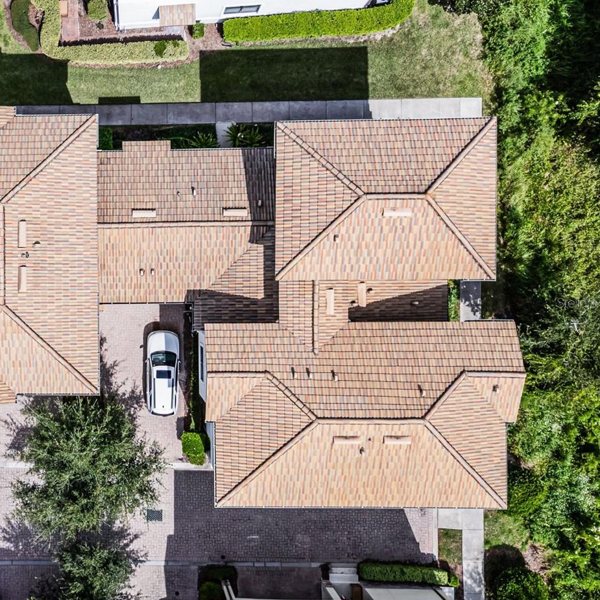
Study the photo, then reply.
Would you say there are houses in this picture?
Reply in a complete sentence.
Yes, I can see a house in this picture.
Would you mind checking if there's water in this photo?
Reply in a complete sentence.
No, the scene doesn't show any water.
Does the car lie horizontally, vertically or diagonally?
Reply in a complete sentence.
From this overhead view, the car appears to run vertically.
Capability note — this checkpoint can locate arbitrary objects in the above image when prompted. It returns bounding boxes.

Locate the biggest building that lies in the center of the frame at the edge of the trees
[101,117,526,510]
